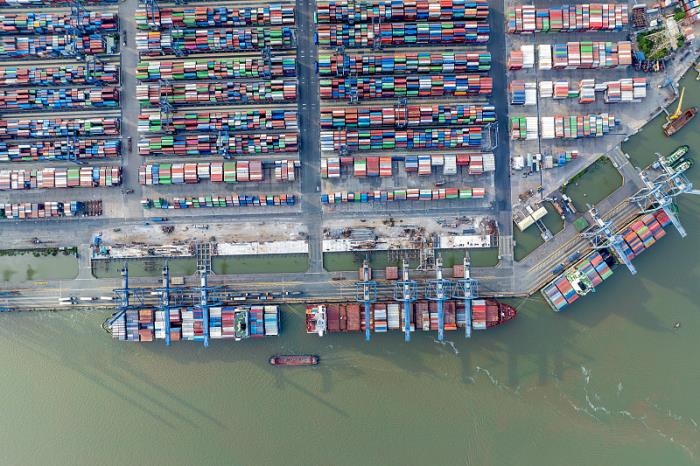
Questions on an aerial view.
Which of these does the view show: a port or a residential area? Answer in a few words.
port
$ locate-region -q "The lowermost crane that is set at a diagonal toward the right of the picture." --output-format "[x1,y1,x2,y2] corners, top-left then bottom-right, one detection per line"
[577,203,638,275]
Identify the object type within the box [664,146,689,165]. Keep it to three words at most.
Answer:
boat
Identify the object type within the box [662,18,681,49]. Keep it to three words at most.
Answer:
building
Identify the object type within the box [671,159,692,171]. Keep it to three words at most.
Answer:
boat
